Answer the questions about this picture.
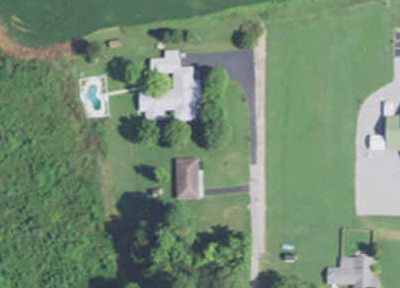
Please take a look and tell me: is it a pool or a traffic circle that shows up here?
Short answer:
pool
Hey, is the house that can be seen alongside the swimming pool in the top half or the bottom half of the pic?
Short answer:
top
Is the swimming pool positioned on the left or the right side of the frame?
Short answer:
left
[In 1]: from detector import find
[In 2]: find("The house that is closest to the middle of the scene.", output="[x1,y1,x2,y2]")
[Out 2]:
[176,158,204,200]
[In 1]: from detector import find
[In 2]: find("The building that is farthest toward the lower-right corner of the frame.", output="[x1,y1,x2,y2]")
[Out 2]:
[328,256,380,288]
